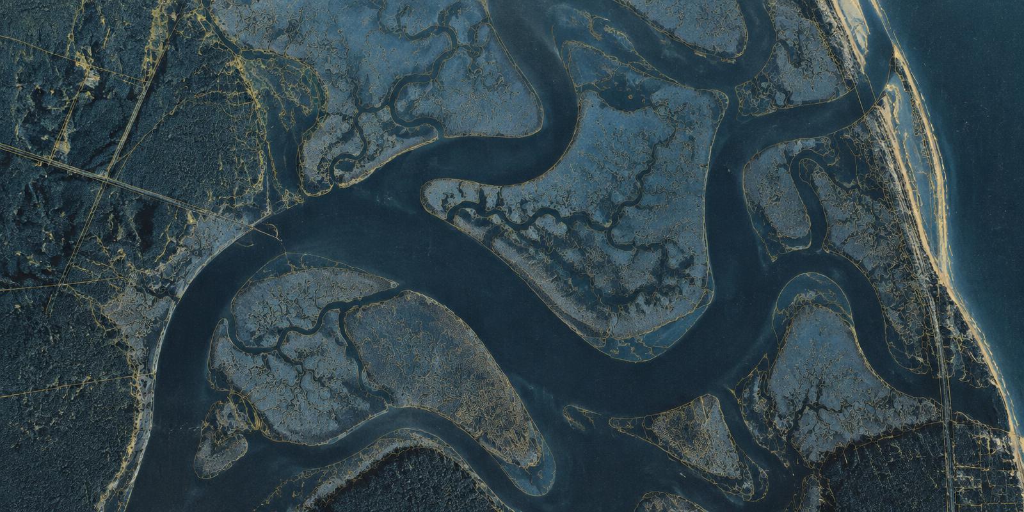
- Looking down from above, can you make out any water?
Yes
